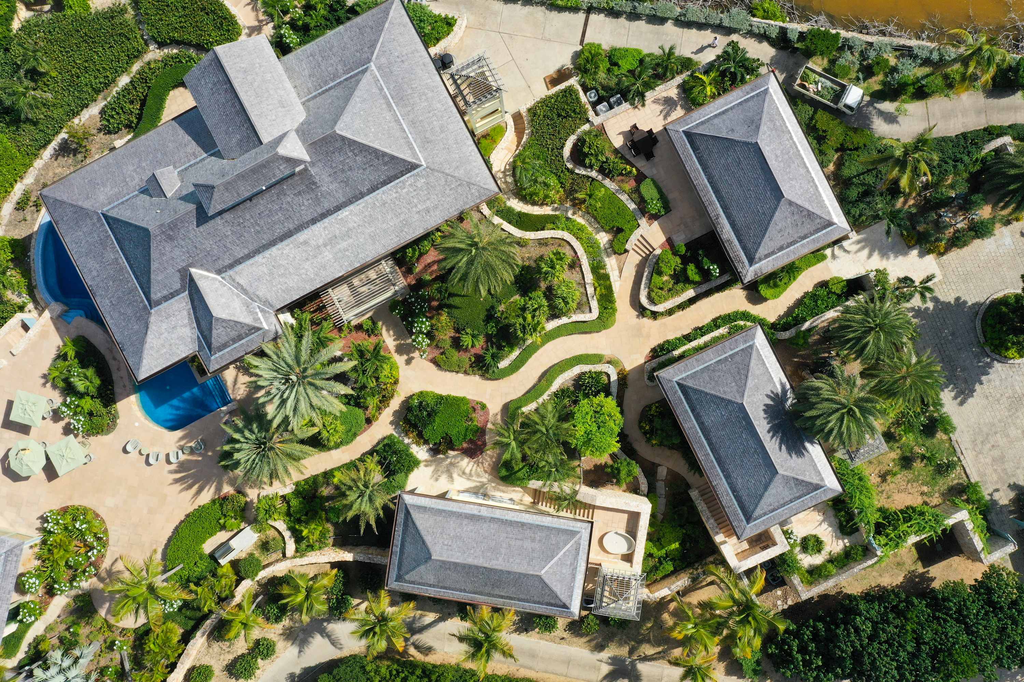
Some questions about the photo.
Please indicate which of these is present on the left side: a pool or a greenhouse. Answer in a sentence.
The feature located on the left side is a pool.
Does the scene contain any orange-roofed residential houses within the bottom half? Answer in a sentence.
No, looking within the bottom half, there is no orange-roofed residential house.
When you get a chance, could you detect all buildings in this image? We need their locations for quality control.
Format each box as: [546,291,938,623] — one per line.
[663,71,854,287]
[652,321,847,543]
[0,532,53,647]
[38,0,504,387]
[383,483,595,623]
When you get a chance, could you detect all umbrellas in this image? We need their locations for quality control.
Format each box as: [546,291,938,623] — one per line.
[5,437,48,479]
[43,434,88,478]
[10,390,52,428]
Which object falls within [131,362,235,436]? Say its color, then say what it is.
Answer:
blue swimming pool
